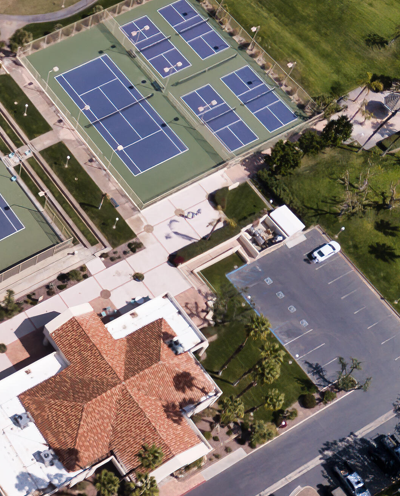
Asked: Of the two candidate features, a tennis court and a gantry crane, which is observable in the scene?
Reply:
tennis court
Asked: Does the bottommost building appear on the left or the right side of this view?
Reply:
left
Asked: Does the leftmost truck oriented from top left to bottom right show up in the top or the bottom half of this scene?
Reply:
bottom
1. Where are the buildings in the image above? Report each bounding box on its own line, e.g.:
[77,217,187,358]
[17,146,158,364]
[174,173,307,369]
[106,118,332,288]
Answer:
[269,205,307,247]
[0,280,223,496]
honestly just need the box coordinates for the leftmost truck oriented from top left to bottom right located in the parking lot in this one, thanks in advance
[334,462,373,496]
